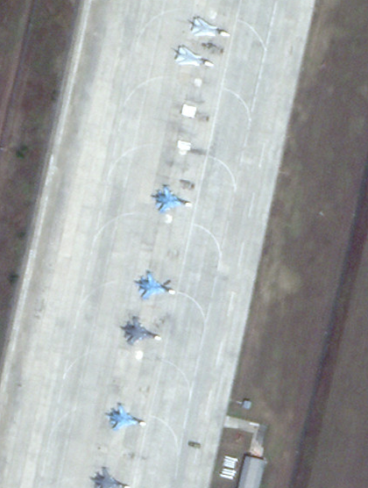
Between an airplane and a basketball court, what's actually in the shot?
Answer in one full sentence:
There is an airplane in the scene.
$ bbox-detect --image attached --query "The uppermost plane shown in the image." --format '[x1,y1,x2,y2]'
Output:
[190,19,230,38]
